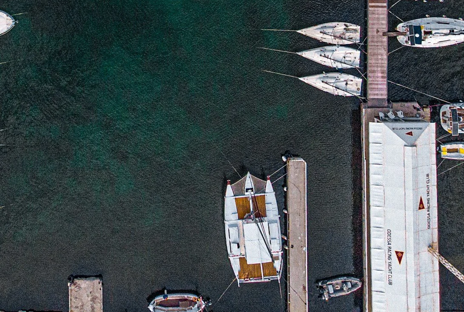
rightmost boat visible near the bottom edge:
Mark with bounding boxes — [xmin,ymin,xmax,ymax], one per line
[315,278,362,302]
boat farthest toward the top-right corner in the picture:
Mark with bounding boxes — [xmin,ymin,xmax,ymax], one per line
[393,16,464,47]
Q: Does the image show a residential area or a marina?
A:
marina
